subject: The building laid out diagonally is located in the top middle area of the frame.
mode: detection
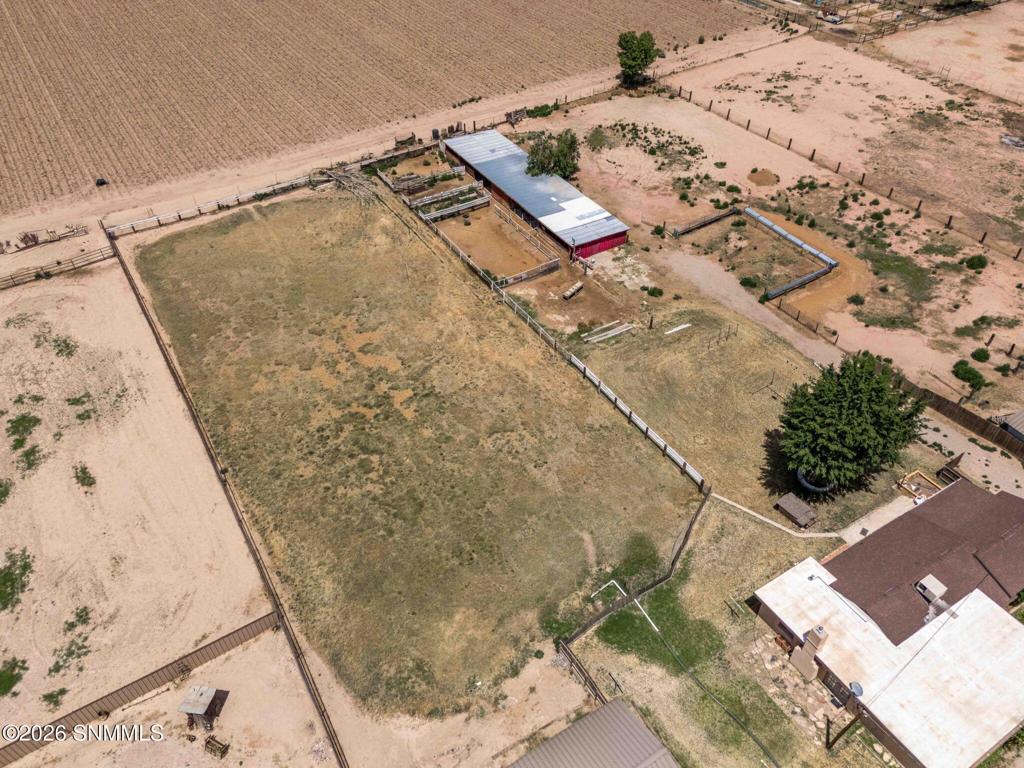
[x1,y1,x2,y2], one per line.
[443,131,633,263]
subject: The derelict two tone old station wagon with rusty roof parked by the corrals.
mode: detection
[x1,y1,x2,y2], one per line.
[816,8,849,24]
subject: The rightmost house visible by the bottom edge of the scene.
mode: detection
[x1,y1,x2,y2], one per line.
[753,475,1024,768]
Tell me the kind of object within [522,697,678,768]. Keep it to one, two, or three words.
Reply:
shed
